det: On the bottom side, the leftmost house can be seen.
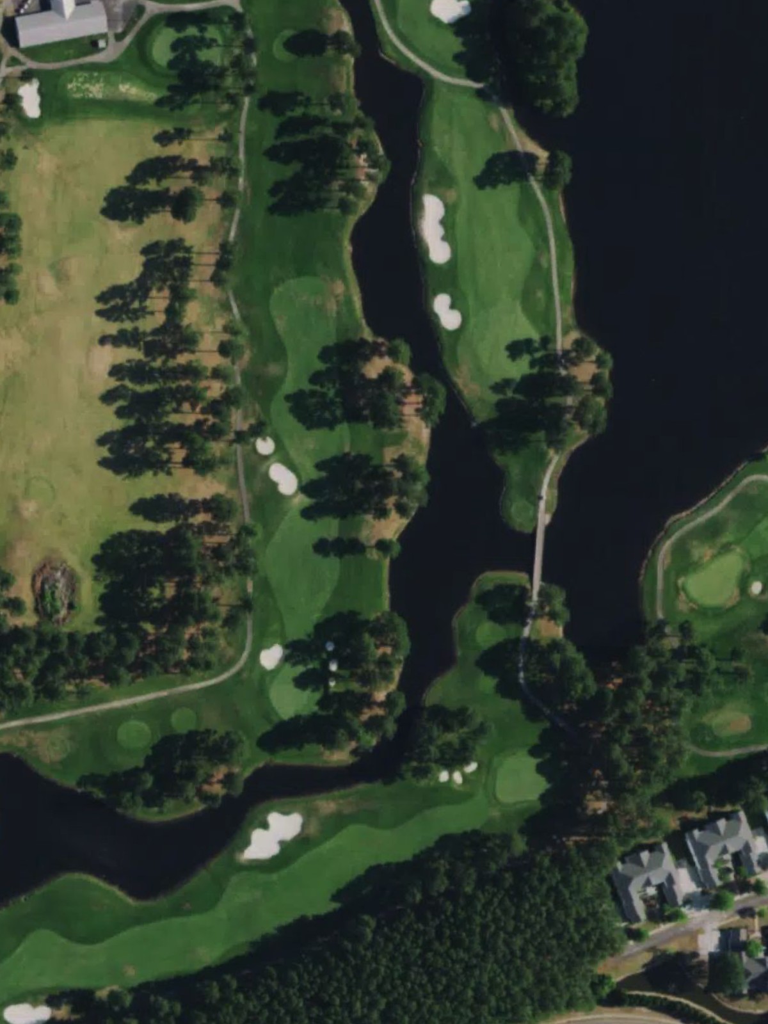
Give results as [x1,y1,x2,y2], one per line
[614,845,687,924]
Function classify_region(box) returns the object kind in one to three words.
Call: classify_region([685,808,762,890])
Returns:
house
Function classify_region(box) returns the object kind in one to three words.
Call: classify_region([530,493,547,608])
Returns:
bridge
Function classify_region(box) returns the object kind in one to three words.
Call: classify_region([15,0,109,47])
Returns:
building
